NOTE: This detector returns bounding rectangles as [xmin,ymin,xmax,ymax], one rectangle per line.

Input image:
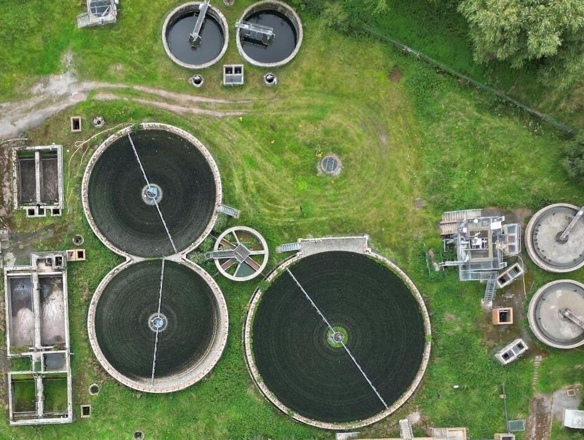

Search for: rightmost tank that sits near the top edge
[235,0,303,69]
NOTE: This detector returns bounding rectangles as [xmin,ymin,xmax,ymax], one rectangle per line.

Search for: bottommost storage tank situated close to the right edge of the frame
[525,278,584,350]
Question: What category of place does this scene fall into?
industrial area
